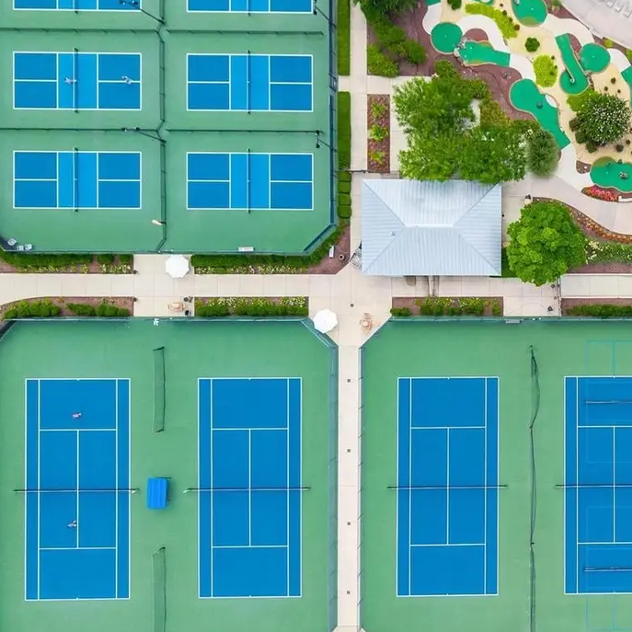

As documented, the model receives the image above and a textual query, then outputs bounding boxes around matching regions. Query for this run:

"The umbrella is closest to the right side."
[313,309,338,333]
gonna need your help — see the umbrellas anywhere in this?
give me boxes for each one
[313,309,338,333]
[167,254,192,278]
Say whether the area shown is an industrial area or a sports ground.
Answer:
sports ground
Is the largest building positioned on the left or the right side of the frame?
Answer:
right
